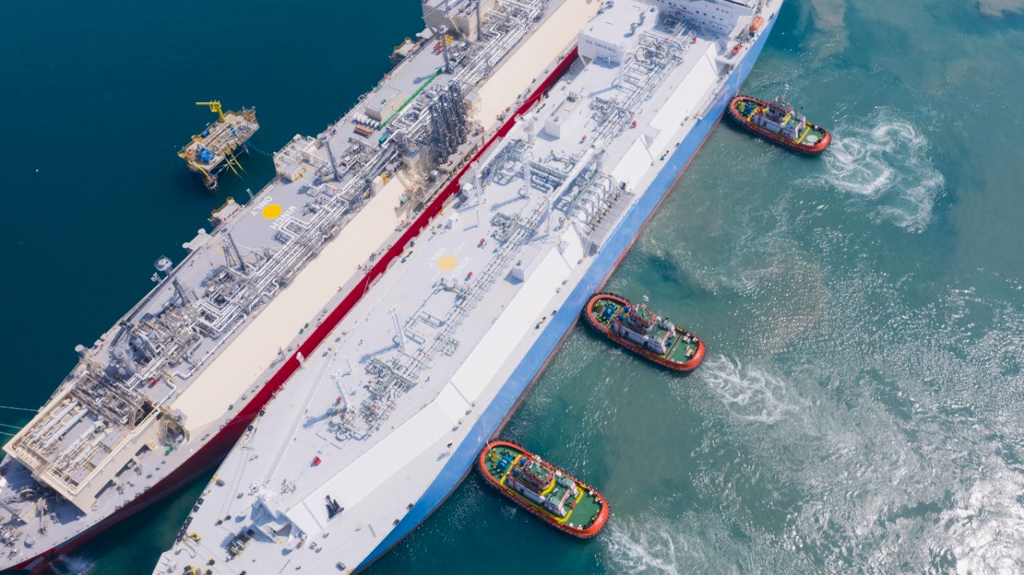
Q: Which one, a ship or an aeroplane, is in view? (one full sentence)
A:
It is a ship that can be seen here.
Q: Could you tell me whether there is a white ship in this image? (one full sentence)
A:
Yes, a white ship is visible in the scene.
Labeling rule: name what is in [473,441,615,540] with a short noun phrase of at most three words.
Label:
boat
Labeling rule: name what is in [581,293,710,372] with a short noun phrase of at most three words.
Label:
boat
